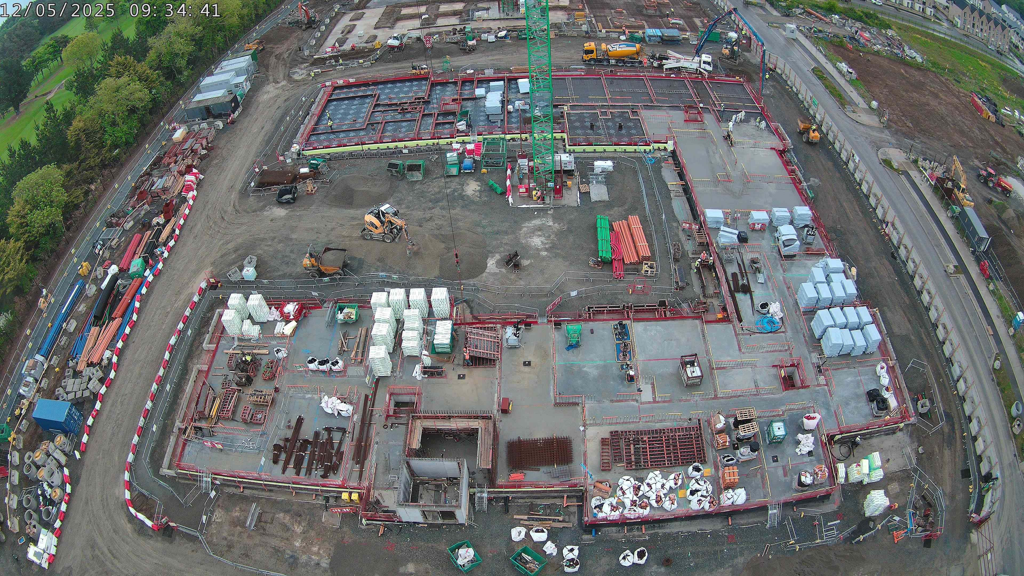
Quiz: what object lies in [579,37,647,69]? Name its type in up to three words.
truck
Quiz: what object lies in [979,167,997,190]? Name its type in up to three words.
work vehicle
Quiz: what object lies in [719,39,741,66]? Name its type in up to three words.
work vehicle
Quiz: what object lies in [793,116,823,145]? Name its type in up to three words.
truck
